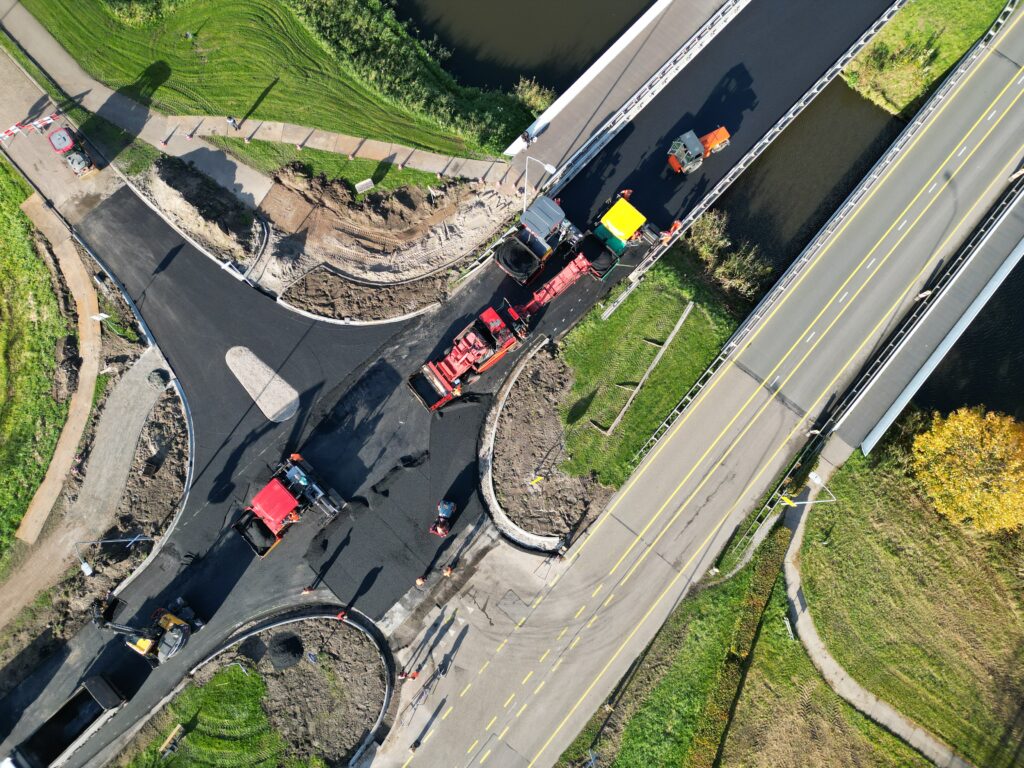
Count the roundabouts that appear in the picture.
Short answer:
none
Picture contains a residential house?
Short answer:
No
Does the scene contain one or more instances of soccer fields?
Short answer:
No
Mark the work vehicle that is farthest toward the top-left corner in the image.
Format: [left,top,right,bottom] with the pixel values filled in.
[47,129,103,185]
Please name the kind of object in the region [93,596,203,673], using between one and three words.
work vehicle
